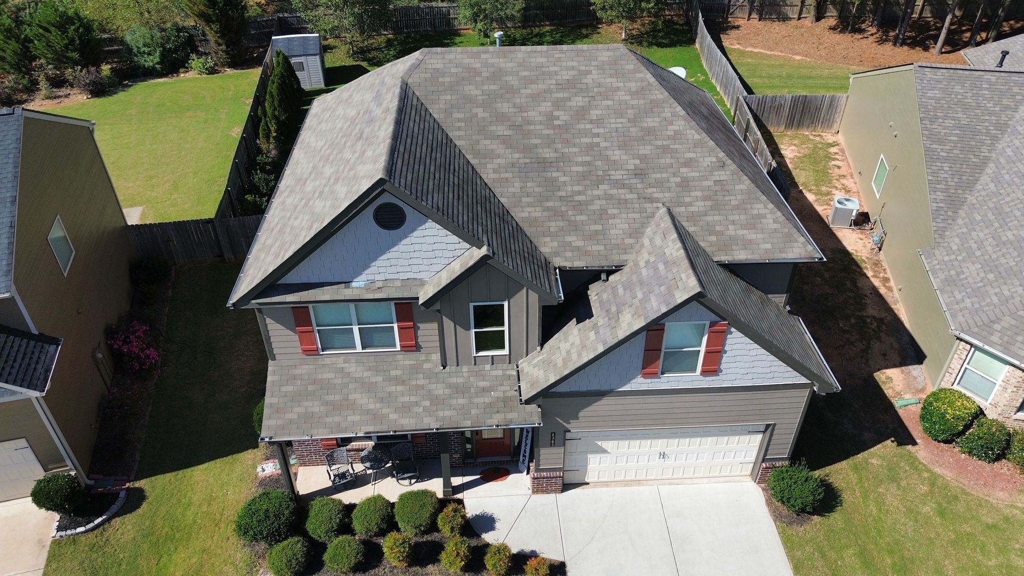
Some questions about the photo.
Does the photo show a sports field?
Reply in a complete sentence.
No, there appears to be no sports field in this shot.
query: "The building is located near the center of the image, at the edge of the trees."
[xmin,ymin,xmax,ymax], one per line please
[221,28,846,503]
